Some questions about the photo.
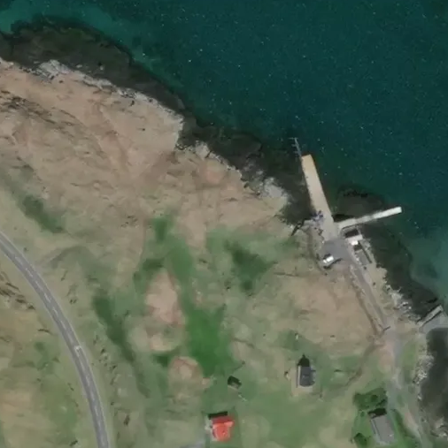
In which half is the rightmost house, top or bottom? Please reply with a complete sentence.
The rightmost house is in the bottom half of the image.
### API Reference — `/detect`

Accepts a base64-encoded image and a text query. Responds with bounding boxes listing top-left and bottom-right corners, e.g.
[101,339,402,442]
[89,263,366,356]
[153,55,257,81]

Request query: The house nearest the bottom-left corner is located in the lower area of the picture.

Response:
[211,414,234,442]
